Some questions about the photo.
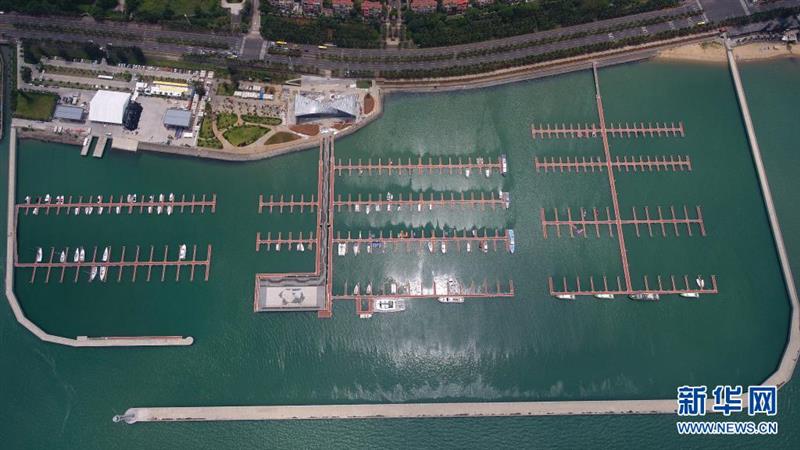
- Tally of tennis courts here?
0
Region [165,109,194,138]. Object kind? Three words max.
shed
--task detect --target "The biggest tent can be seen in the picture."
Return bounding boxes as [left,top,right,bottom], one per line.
[88,90,132,123]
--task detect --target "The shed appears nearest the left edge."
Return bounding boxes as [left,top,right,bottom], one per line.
[54,105,86,120]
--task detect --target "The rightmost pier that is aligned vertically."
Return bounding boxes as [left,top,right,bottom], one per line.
[593,60,634,291]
